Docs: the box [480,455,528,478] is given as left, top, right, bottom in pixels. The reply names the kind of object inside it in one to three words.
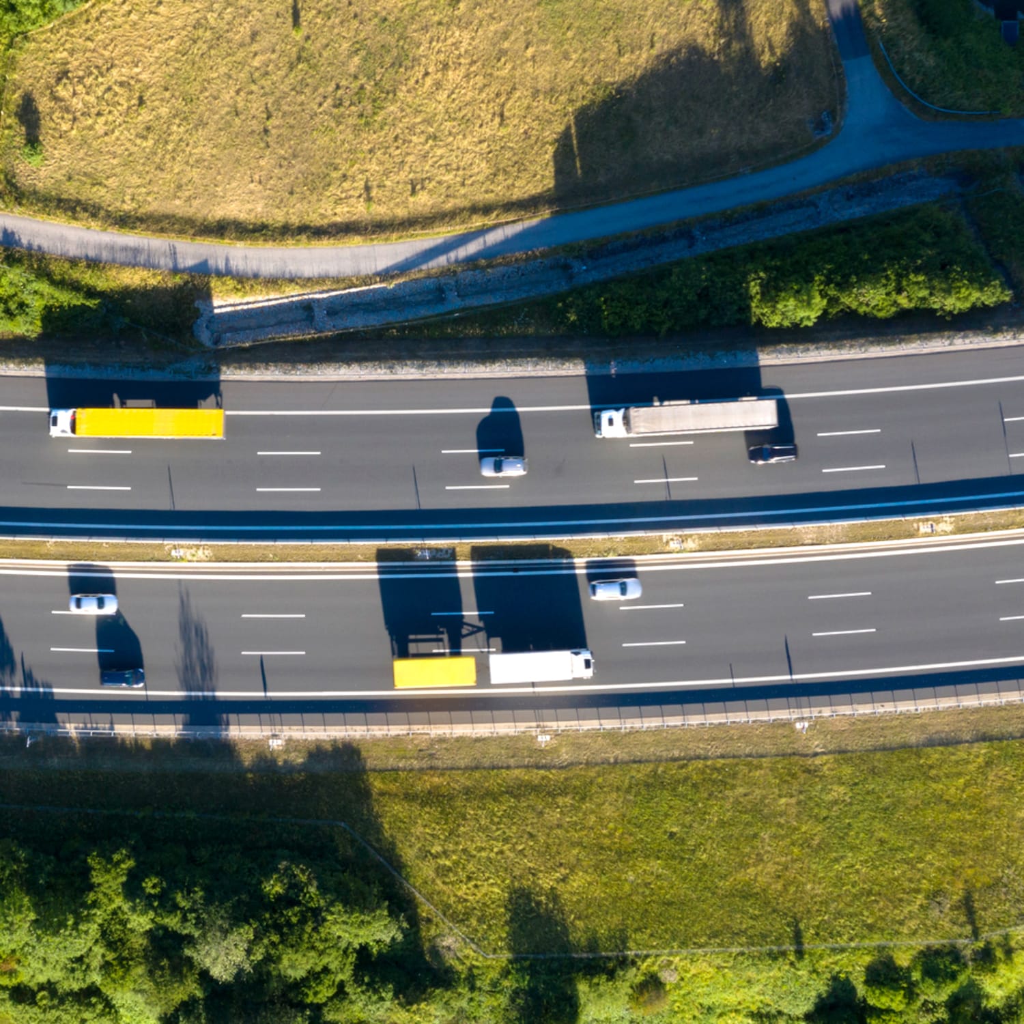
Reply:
car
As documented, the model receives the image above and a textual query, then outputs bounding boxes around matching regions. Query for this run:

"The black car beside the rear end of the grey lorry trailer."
[747,442,798,465]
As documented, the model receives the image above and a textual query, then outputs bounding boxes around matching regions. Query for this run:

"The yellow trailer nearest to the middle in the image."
[393,653,489,687]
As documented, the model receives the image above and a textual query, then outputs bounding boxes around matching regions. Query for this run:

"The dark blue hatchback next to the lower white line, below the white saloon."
[100,667,145,690]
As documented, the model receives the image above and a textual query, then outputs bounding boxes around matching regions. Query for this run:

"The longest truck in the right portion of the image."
[592,401,779,443]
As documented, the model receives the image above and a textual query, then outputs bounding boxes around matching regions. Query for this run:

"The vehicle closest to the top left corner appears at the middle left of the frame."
[48,405,226,439]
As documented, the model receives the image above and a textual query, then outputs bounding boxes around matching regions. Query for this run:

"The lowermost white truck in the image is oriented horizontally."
[488,646,594,683]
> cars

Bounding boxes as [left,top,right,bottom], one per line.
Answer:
[100,667,145,690]
[480,455,528,478]
[747,442,798,465]
[70,593,119,616]
[592,577,643,600]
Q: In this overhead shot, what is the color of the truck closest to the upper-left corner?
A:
yellow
